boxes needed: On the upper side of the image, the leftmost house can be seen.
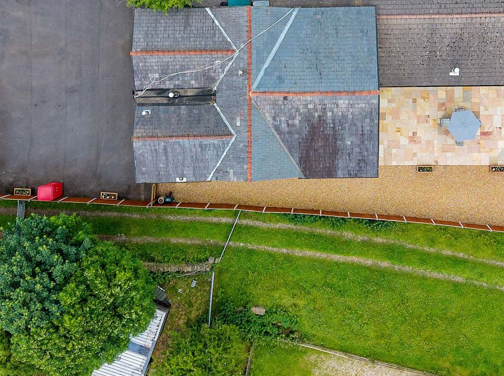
[130,5,380,184]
